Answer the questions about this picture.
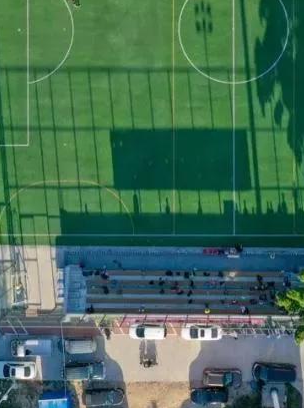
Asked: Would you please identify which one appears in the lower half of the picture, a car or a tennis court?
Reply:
car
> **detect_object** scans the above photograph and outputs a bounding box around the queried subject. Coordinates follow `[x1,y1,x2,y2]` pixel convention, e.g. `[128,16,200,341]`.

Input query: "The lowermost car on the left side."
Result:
[86,387,124,408]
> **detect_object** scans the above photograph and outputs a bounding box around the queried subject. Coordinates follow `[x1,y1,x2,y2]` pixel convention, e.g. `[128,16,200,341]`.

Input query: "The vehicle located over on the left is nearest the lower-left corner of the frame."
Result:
[0,360,37,381]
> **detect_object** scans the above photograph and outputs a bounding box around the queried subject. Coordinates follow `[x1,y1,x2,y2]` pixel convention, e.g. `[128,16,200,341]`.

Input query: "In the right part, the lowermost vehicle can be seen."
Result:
[190,386,229,406]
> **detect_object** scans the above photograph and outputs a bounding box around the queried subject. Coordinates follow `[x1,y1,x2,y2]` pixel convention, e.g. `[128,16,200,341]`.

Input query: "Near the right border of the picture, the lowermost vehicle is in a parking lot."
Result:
[252,362,297,385]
